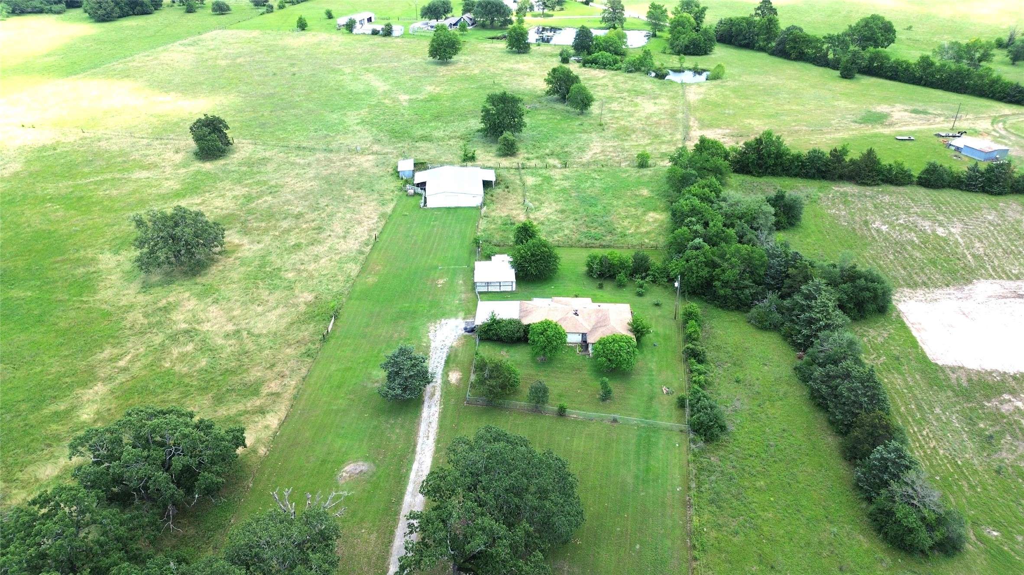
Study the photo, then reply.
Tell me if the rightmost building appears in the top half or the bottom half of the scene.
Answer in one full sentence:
Seen from above, the rightmost building lies in the top half of the view.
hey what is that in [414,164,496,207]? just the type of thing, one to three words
barn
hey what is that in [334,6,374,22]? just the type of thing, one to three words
barn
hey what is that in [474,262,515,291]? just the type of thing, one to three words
shed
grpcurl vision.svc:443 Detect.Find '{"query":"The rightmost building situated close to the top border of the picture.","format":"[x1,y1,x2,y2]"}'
[426,5,477,28]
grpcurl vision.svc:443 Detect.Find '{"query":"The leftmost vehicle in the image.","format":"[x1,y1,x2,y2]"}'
[464,321,476,333]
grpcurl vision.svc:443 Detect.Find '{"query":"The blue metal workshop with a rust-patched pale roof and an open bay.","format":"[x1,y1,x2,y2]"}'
[950,132,1008,161]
